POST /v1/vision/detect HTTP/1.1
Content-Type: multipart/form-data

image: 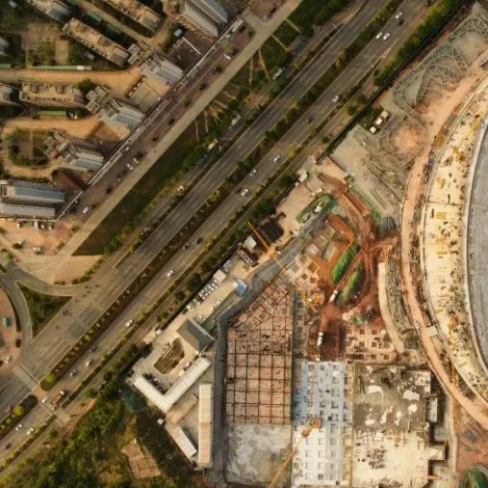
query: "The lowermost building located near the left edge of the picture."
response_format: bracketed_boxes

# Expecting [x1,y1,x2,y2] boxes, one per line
[0,180,65,218]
